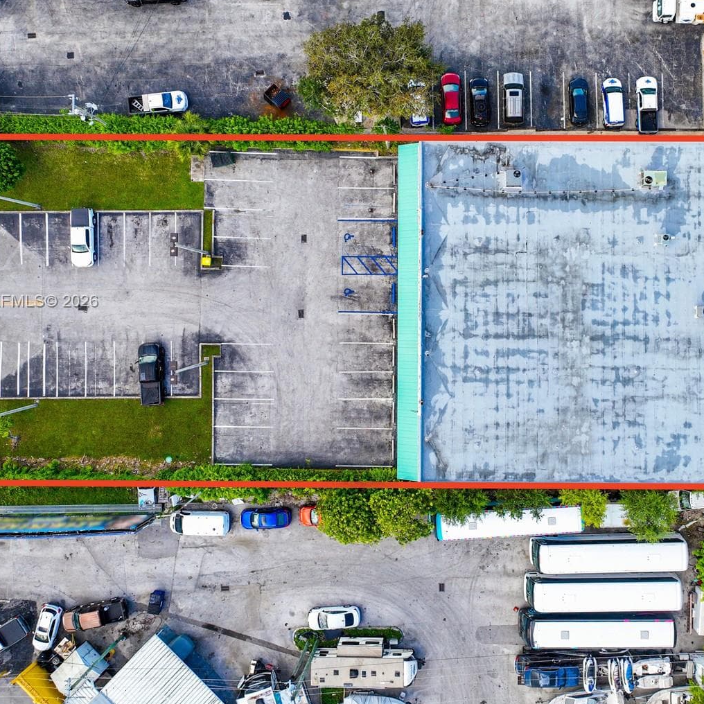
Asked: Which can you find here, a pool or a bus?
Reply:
bus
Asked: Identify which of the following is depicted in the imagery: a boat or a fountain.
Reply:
boat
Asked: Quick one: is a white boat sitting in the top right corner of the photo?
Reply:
No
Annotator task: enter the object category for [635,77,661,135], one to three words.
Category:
truck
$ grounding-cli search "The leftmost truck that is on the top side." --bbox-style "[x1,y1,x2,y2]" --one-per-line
[69,208,97,266]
